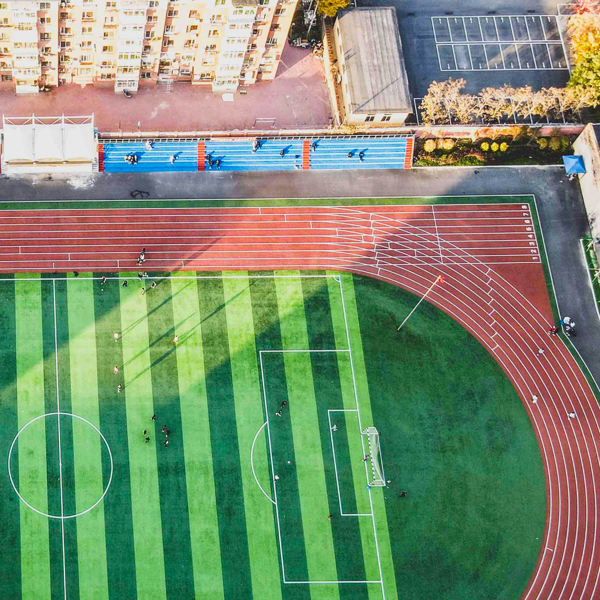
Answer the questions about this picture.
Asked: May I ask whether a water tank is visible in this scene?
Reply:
No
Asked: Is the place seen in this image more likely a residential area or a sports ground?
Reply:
sports ground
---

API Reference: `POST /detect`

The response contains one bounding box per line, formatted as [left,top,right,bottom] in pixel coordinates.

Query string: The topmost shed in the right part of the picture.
[332,7,412,124]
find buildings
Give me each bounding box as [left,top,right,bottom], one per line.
[332,7,412,124]
[574,122,600,237]
[0,0,300,97]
